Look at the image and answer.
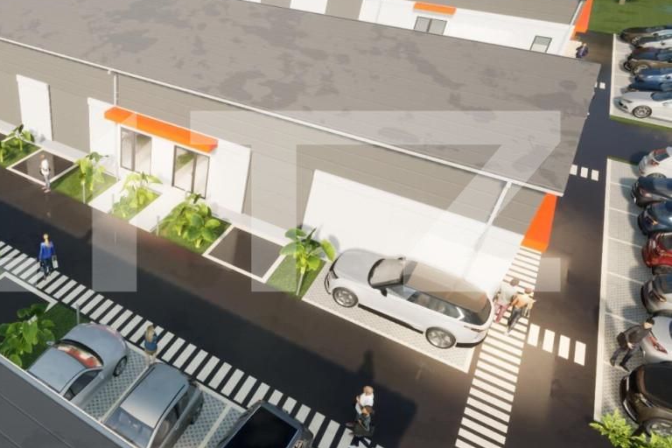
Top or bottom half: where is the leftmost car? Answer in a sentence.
The leftmost car sits in the bottom half of the picture.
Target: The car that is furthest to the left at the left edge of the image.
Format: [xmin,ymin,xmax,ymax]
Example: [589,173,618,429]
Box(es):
[28,320,126,404]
